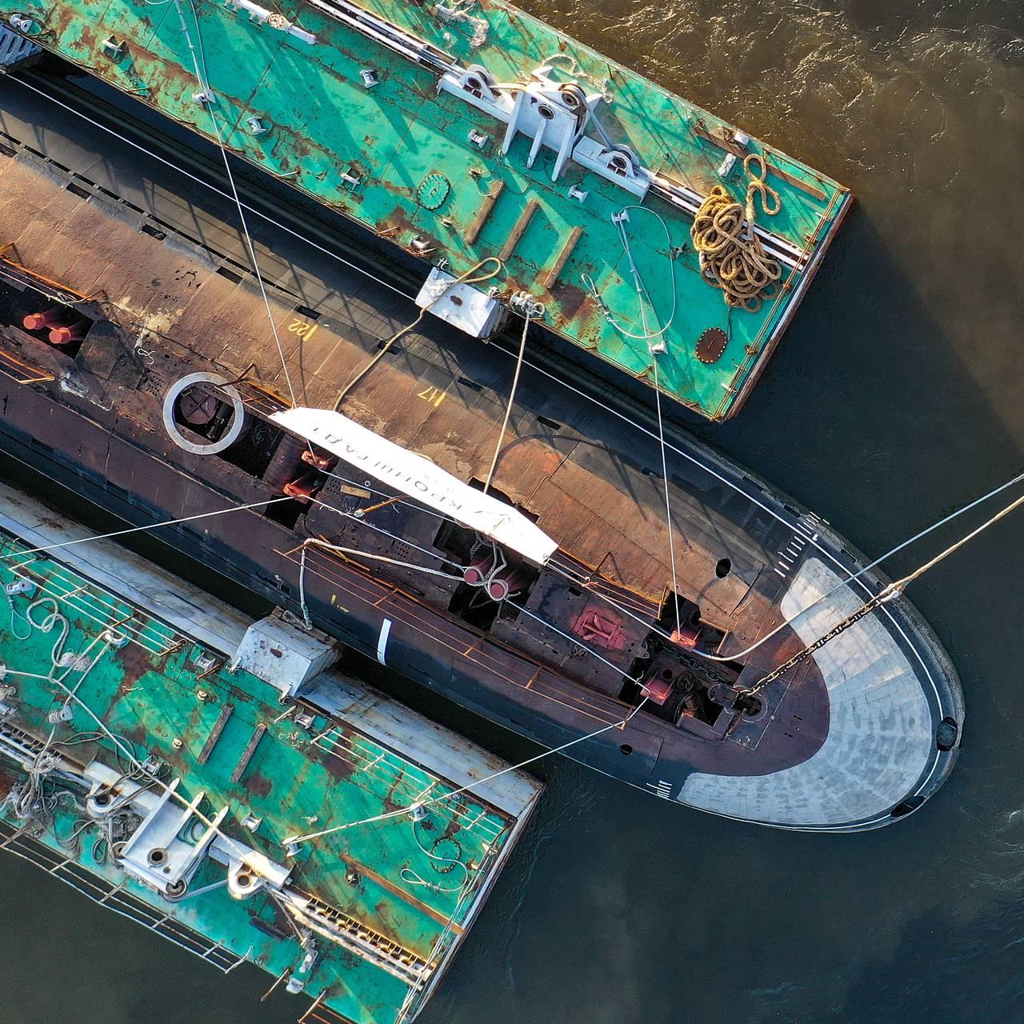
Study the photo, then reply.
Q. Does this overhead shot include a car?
No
